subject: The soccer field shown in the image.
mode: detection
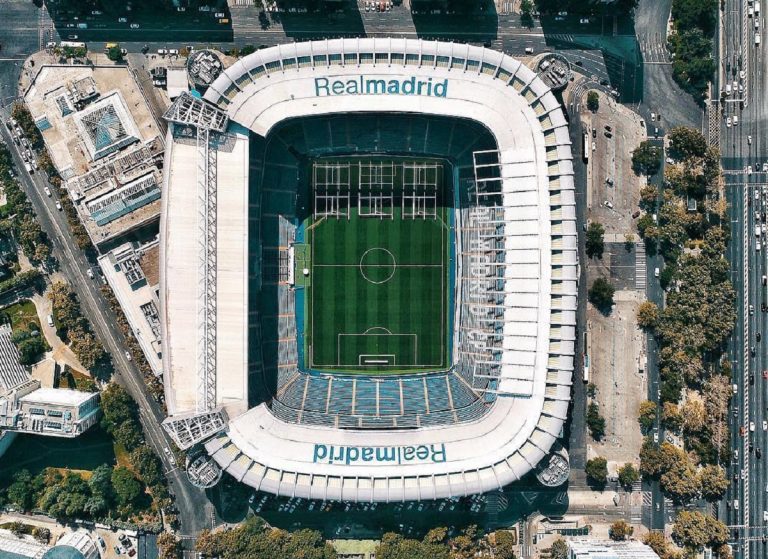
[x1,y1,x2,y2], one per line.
[298,157,455,374]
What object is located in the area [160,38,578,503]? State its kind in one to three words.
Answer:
stadium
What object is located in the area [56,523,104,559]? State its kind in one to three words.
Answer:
building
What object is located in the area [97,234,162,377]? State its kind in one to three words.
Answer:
building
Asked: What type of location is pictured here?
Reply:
sports ground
